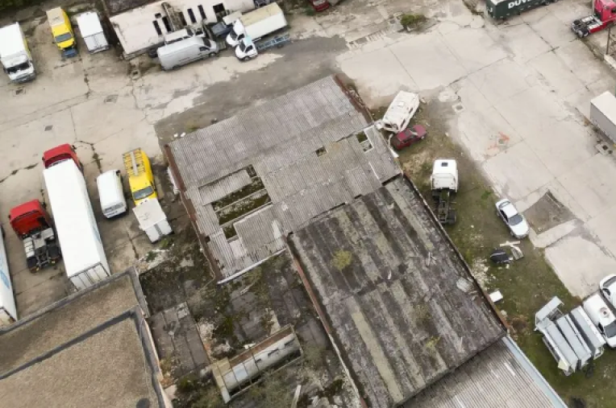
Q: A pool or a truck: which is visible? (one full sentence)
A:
The image shows a truck.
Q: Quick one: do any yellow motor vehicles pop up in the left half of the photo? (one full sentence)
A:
Yes, you'll find a yellow motor vehicle in the left half of the photo.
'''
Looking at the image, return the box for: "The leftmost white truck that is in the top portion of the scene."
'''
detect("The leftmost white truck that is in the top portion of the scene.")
[0,19,40,85]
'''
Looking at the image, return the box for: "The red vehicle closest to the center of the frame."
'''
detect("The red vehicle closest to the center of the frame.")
[387,126,430,151]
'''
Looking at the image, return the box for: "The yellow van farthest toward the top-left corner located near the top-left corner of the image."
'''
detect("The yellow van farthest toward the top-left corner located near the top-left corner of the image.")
[45,7,77,49]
